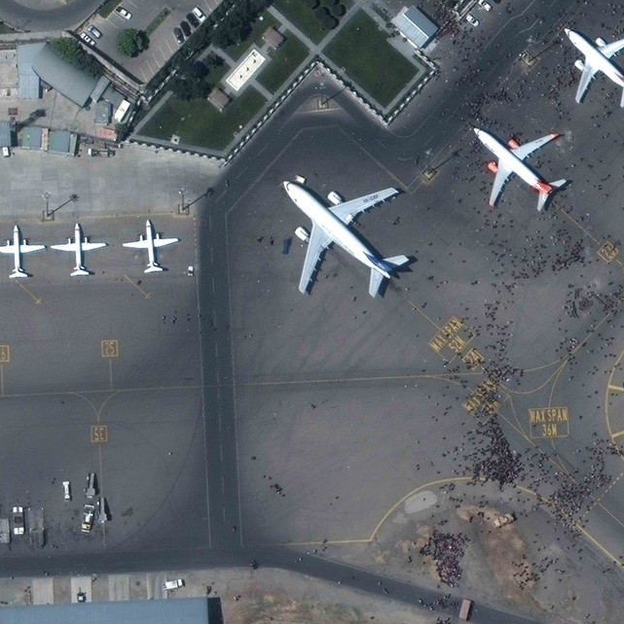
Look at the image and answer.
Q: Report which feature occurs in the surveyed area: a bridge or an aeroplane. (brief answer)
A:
aeroplane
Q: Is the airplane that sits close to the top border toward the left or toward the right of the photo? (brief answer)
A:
right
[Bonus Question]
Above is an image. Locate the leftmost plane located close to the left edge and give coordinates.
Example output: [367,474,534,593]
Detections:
[0,225,45,275]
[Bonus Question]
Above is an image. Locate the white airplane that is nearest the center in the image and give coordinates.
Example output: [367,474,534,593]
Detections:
[283,181,402,290]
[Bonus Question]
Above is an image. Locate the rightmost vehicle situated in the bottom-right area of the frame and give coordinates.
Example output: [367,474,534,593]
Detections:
[493,510,516,527]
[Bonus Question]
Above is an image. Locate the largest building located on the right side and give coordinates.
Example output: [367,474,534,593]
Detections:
[395,4,438,50]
